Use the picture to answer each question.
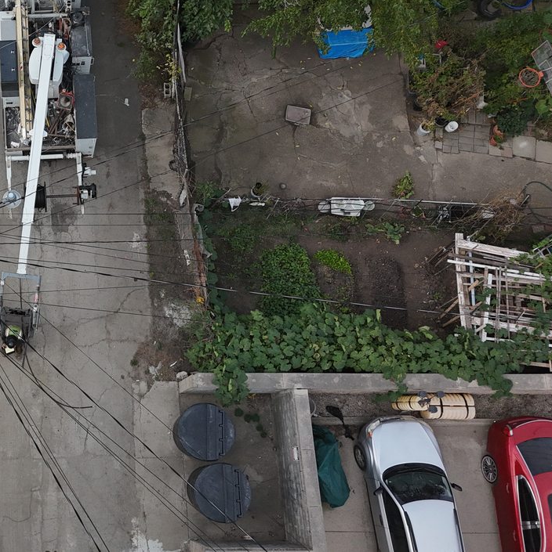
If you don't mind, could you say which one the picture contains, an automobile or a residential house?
automobile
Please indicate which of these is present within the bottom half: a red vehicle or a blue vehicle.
red vehicle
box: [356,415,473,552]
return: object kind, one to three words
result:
car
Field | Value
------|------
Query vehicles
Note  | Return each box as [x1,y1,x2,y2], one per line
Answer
[482,415,552,552]
[0,0,98,374]
[356,415,473,552]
